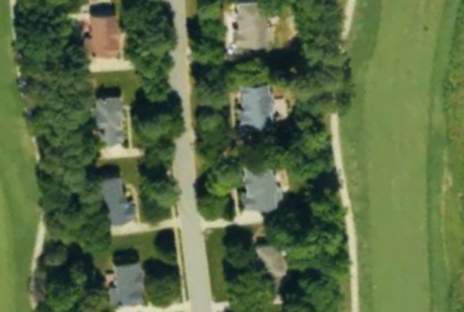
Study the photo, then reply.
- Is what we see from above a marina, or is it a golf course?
golf course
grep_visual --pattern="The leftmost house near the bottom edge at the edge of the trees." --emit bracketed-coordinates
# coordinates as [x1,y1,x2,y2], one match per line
[106,263,142,312]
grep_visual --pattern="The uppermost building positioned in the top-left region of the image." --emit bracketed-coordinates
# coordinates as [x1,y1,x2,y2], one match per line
[80,16,120,62]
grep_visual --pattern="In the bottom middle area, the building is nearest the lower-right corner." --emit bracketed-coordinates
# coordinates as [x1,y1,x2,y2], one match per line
[250,242,291,288]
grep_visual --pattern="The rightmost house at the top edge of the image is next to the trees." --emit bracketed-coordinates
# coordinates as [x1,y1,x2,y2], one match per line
[230,3,274,54]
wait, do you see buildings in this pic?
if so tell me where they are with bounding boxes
[237,85,272,132]
[80,16,120,62]
[99,176,136,229]
[250,242,291,288]
[93,100,123,150]
[230,3,274,54]
[238,166,283,214]
[106,263,142,312]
